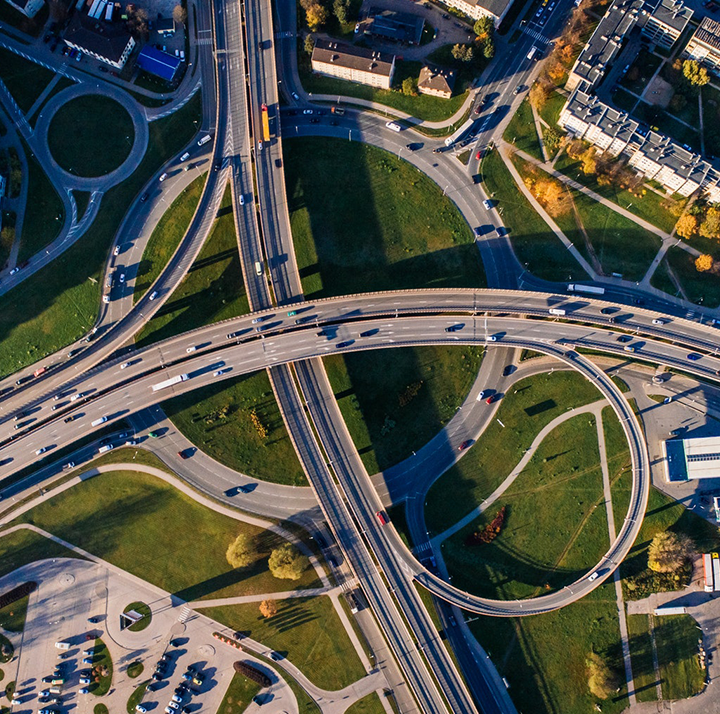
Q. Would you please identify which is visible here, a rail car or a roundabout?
roundabout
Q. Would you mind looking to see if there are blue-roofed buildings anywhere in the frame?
Yes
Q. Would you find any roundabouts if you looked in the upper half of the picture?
Yes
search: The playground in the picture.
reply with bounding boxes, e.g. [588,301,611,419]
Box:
[646,79,671,105]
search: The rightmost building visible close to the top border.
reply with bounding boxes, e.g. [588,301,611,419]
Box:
[677,15,720,82]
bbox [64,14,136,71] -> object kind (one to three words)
building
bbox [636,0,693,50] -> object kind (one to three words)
building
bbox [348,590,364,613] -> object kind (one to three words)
vehicle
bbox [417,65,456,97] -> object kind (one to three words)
house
